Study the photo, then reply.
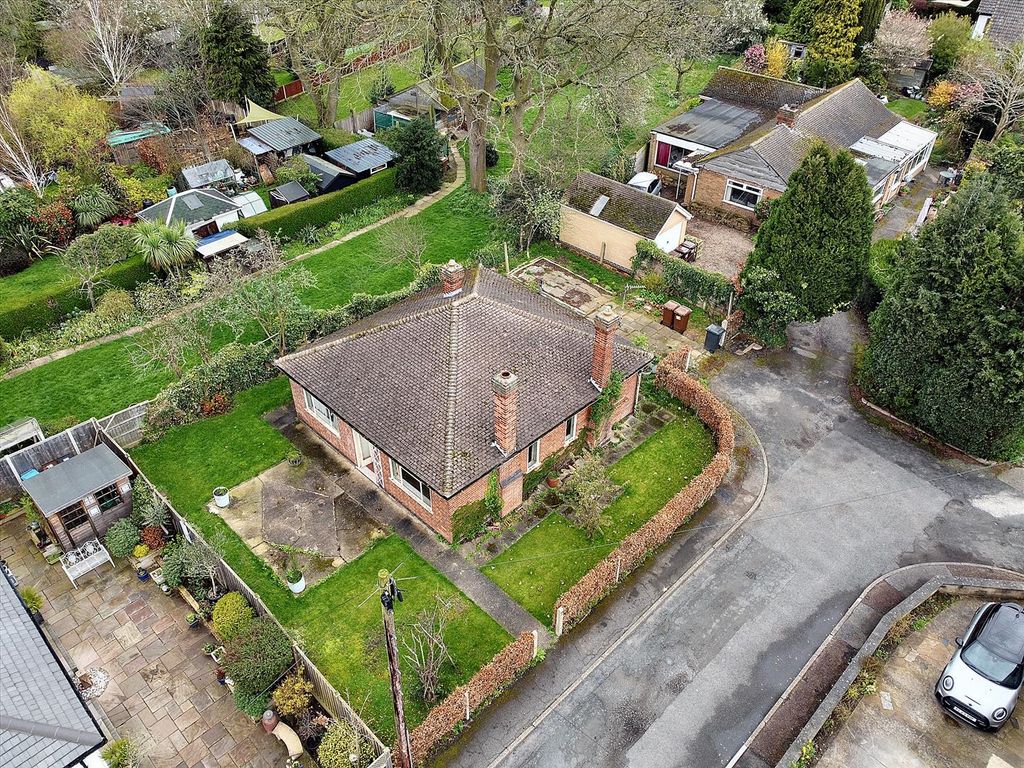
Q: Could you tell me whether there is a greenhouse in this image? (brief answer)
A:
Yes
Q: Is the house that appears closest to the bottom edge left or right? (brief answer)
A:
left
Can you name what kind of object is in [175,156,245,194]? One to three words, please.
greenhouse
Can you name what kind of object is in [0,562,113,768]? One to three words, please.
house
